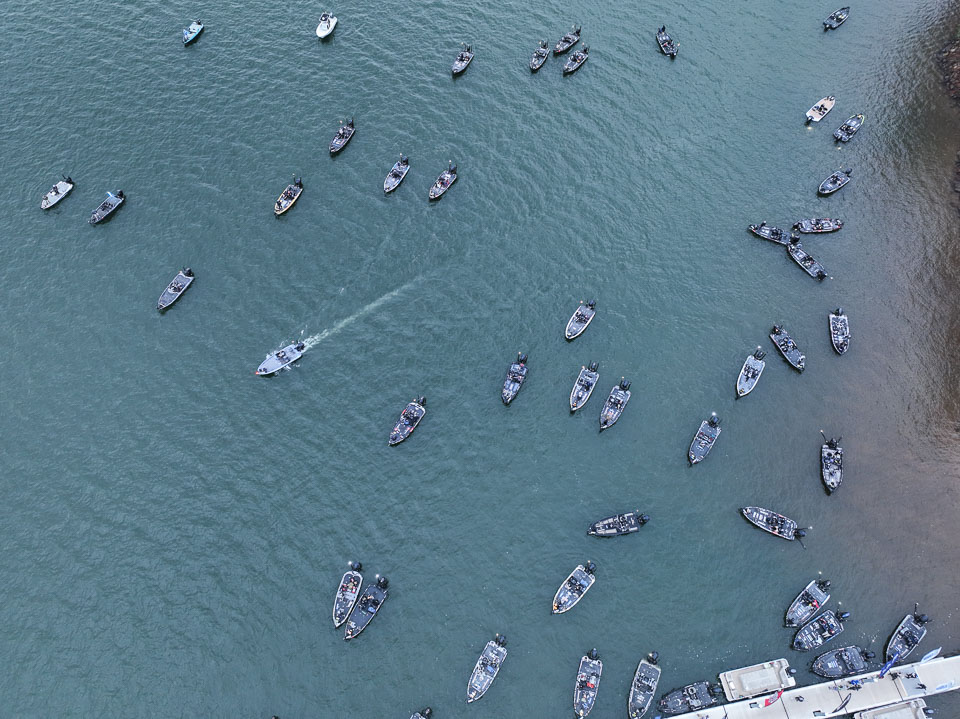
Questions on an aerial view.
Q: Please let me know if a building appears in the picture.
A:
No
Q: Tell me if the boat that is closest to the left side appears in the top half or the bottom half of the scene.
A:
top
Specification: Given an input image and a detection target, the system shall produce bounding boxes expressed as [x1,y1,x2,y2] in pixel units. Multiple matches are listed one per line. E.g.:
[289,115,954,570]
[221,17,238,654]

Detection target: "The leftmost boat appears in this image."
[40,175,73,209]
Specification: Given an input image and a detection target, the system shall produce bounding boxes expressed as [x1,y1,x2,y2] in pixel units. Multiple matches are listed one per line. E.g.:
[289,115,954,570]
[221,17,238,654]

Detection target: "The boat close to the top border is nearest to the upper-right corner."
[823,6,850,30]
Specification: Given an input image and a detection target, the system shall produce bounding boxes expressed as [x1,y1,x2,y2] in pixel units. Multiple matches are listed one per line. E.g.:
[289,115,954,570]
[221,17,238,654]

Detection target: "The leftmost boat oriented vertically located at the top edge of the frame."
[318,11,335,42]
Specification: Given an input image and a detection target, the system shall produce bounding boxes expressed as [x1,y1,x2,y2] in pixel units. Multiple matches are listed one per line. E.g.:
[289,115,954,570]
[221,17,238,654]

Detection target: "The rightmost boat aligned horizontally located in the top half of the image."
[793,218,845,233]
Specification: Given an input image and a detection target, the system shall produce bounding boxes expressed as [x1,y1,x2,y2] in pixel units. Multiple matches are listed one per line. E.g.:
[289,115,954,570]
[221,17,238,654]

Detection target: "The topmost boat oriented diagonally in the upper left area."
[184,17,203,41]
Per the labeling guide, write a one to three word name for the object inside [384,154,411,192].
boat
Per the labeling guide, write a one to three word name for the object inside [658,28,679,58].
boat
